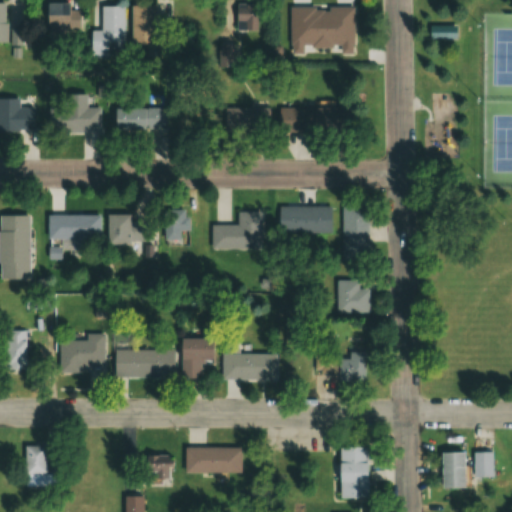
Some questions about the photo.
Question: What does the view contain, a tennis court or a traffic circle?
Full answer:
It is a tennis court that can be seen here.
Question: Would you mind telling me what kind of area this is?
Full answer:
What you see here is a residential area.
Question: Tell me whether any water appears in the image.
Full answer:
No, the scene doesn't show any water.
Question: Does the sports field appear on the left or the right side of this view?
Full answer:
The sports field sits on the right side.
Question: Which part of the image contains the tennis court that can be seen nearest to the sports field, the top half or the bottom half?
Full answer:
The tennis court that can be seen nearest to the sports field sits in the top half of the picture.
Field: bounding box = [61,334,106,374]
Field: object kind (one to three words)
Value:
house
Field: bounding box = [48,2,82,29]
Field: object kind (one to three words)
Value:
house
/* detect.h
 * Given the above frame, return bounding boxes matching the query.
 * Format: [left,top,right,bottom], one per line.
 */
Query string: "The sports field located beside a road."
[440,260,512,389]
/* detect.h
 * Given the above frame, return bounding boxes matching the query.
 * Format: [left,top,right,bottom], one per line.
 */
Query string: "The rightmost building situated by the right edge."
[475,452,495,478]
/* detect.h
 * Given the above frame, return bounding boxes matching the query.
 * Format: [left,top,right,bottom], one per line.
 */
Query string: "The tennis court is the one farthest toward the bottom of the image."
[486,100,512,187]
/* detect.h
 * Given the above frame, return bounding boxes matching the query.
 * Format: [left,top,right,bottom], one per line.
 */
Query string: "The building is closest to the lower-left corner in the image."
[27,446,50,486]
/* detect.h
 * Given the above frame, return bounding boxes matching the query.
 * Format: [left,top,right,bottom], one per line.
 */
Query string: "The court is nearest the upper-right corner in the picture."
[486,13,512,100]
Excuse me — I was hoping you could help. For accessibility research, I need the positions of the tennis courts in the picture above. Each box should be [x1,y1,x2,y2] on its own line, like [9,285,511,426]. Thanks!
[486,100,512,187]
[486,13,512,100]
